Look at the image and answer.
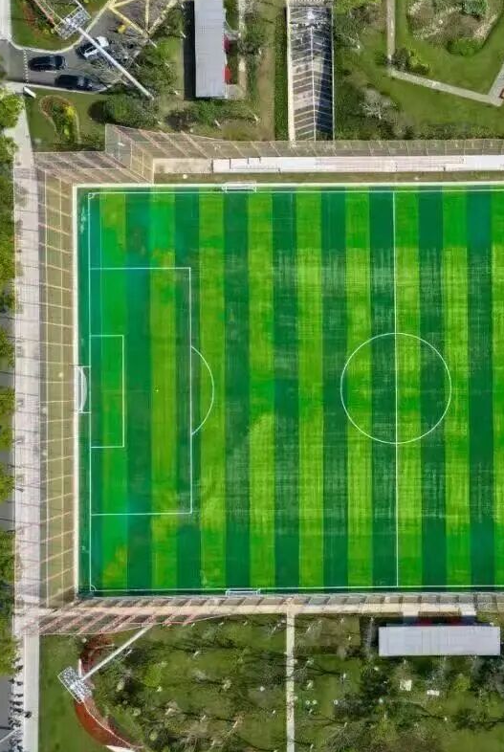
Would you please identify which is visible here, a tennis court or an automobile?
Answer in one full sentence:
This aerial view contains an automobile.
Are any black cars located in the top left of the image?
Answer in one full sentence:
Yes, in the top left of the image there is a black car.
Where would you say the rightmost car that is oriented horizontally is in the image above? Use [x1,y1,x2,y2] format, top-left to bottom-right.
[54,71,92,90]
